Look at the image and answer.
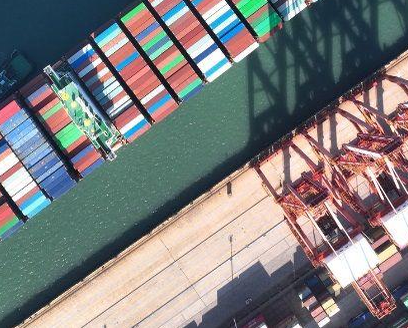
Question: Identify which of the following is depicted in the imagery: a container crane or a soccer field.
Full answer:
This aerial view contains a container crane.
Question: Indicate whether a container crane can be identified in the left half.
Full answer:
No, the scene shows no container crane in the left half.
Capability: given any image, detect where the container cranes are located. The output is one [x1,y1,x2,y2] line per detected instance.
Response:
[341,68,408,168]
[293,100,408,247]
[246,133,400,320]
